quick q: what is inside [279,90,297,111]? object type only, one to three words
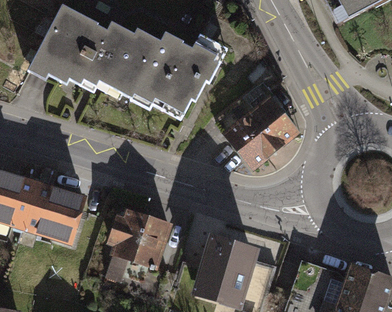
car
